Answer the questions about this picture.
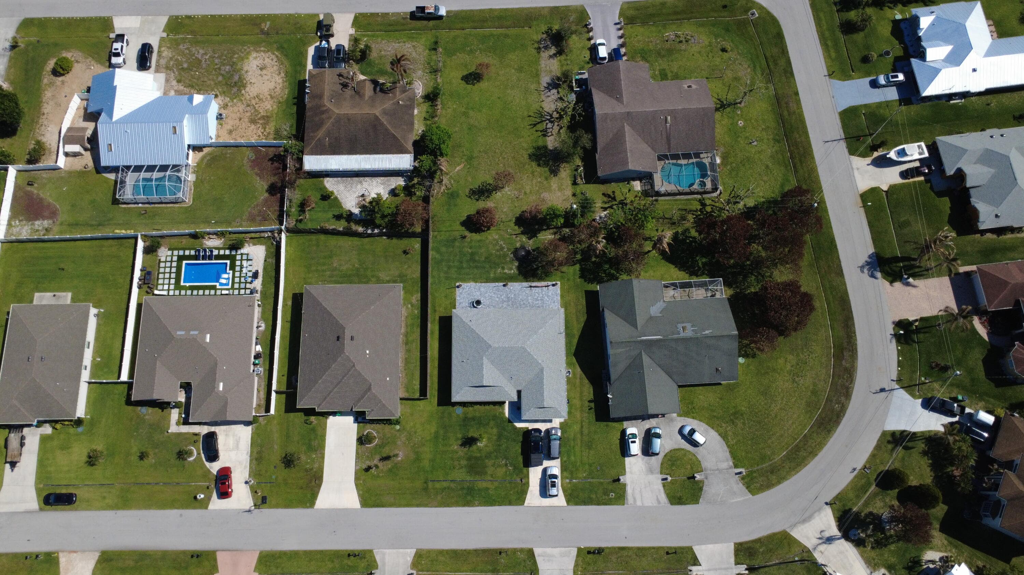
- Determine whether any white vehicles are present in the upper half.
Yes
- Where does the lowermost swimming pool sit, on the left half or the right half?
left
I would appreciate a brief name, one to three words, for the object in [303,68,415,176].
house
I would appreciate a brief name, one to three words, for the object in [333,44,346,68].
vehicle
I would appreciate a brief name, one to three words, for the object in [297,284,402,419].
house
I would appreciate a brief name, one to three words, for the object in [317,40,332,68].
vehicle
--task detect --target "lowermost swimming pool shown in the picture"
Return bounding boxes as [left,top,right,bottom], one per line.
[181,260,232,288]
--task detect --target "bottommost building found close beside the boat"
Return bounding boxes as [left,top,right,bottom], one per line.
[929,126,1024,232]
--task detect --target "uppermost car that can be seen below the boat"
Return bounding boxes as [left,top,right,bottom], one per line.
[902,164,934,180]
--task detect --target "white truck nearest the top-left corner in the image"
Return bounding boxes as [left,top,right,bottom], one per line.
[109,34,131,67]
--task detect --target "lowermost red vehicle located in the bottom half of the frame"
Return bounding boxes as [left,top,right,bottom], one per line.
[215,466,233,500]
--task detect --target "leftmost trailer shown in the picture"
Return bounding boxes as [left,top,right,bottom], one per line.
[4,425,26,474]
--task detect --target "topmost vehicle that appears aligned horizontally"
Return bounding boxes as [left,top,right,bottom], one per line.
[415,4,446,18]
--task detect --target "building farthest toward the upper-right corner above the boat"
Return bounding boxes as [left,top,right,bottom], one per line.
[905,0,1024,102]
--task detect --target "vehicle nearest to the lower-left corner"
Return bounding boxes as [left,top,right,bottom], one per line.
[44,492,78,508]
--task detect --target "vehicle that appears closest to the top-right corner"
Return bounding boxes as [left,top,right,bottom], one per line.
[875,73,905,88]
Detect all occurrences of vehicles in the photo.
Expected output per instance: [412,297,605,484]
[138,44,154,69]
[322,11,336,37]
[902,164,934,180]
[203,431,220,464]
[215,466,233,500]
[625,426,640,457]
[333,44,346,68]
[596,40,609,64]
[925,395,966,421]
[109,34,131,67]
[545,466,560,498]
[317,40,332,68]
[547,427,562,459]
[649,425,664,456]
[875,73,905,88]
[612,45,624,62]
[415,4,446,18]
[529,429,545,468]
[44,492,78,508]
[678,424,709,449]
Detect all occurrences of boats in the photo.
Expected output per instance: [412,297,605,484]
[879,143,932,162]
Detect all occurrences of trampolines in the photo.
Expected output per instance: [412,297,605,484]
[513,243,532,261]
